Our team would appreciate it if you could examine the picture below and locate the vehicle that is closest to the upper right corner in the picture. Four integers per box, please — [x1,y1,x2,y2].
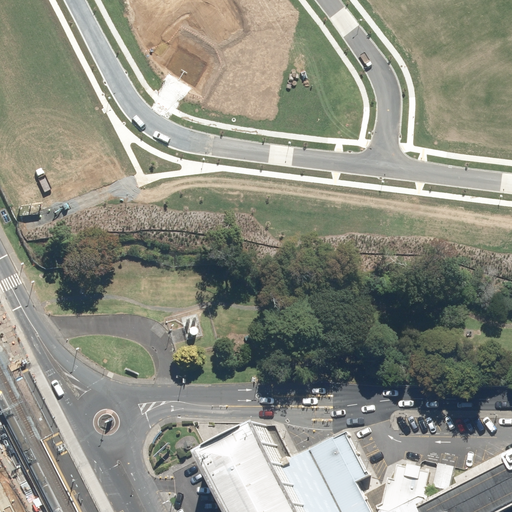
[359,51,374,71]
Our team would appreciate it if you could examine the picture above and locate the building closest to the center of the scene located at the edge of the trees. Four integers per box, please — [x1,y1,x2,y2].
[182,314,203,340]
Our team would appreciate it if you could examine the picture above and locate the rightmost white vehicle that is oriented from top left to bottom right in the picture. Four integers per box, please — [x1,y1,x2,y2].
[482,416,498,436]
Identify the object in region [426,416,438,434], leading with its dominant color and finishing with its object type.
white vehicle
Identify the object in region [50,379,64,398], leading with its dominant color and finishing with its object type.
white vehicle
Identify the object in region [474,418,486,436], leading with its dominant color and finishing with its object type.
blue vehicle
